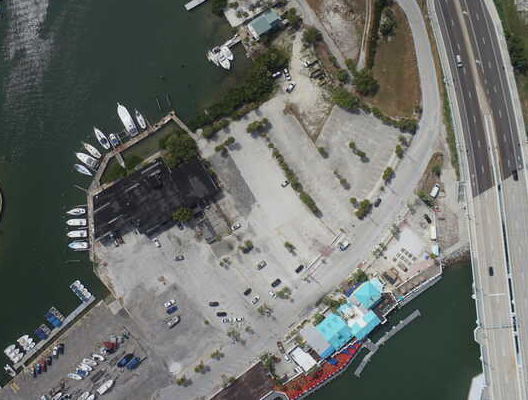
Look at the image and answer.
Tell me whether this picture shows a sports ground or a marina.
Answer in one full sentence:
This looks like a marina.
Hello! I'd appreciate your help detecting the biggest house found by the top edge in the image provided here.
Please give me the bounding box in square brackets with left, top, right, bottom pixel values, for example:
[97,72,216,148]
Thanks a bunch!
[249,13,275,37]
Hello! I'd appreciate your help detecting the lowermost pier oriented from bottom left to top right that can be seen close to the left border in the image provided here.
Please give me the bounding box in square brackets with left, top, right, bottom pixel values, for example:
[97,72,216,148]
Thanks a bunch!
[15,294,95,366]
